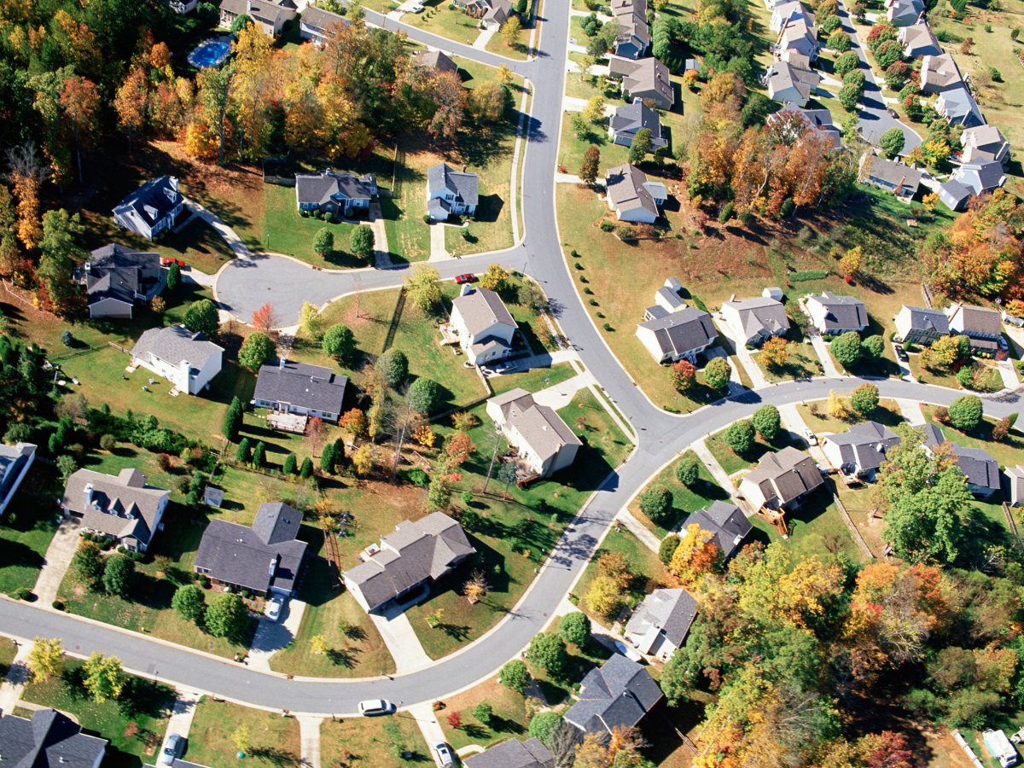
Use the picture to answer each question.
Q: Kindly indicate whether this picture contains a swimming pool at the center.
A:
No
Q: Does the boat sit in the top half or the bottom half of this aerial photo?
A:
bottom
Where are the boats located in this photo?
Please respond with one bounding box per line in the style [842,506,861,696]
[617,638,644,661]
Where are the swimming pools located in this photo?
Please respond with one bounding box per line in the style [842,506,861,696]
[187,35,234,67]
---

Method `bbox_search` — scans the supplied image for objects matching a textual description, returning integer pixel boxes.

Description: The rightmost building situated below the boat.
[569,652,664,744]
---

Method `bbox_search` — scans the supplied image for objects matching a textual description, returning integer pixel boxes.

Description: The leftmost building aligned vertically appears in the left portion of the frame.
[0,438,37,521]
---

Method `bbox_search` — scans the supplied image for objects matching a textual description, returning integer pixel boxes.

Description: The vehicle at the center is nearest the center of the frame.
[492,360,514,373]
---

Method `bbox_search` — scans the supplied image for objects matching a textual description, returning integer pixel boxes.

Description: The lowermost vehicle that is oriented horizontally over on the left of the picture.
[359,698,392,713]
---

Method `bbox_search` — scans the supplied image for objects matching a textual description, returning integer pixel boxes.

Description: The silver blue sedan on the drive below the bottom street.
[162,733,181,762]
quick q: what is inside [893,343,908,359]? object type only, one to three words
car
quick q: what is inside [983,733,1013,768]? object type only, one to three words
camper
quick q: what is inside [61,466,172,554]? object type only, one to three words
house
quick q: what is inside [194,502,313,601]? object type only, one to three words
house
